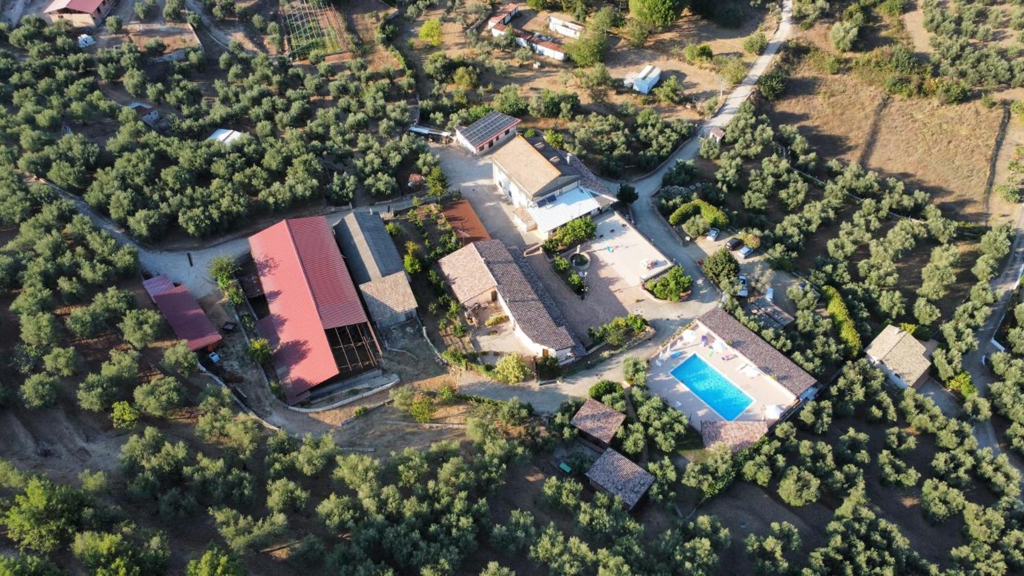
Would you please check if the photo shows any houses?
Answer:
Yes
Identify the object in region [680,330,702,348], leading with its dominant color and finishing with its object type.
white umbrella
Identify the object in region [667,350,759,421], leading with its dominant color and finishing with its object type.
blue swimming pool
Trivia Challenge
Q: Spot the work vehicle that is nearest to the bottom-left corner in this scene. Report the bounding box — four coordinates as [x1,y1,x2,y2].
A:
[206,348,223,366]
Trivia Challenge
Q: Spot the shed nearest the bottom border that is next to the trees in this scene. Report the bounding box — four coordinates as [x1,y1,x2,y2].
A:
[585,447,655,516]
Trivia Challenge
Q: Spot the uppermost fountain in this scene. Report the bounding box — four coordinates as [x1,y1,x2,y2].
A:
[568,251,590,268]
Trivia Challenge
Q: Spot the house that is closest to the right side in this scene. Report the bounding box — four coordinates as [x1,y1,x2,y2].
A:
[865,325,931,395]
